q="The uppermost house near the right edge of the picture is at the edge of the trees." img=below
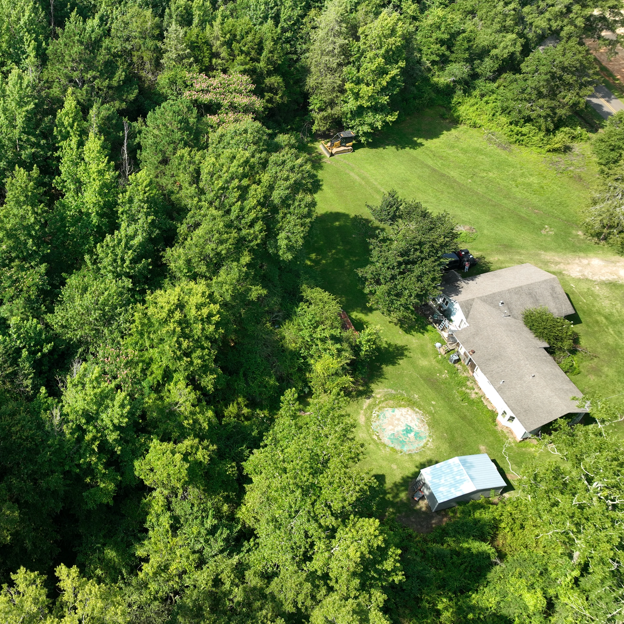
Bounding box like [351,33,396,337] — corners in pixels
[435,263,595,443]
